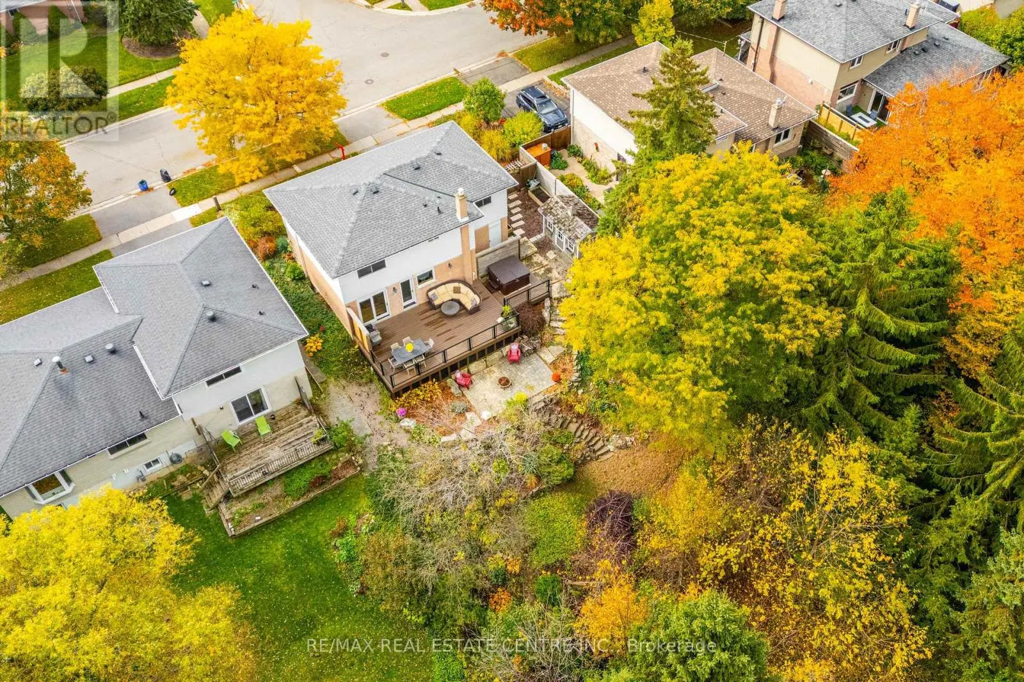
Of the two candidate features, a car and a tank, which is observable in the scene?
car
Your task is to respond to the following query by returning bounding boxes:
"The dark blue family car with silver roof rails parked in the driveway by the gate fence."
[522,85,566,129]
